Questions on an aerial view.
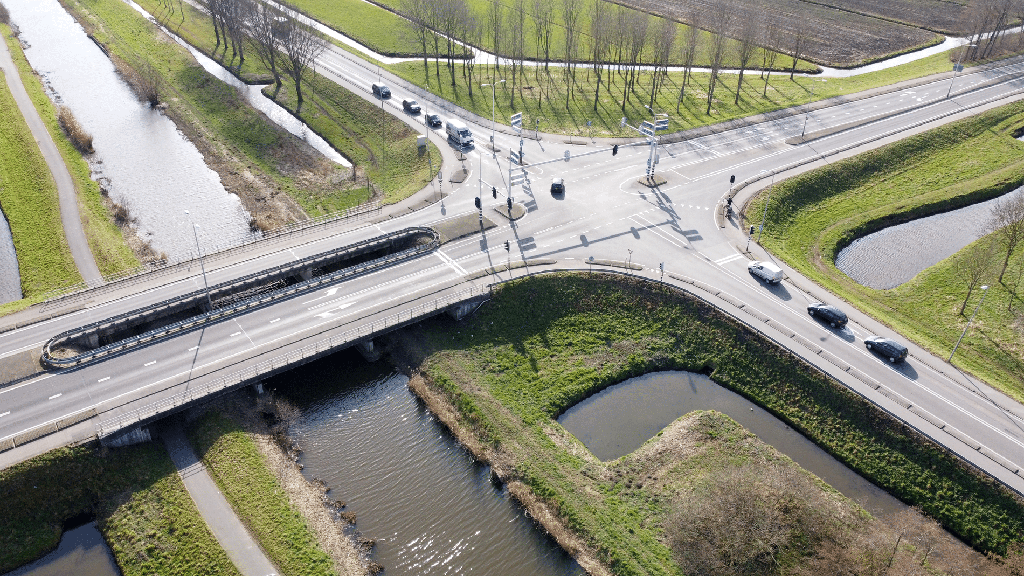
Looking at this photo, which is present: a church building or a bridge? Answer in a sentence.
Looking from above, you can make out a bridge.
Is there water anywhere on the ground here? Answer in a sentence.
Yes, some water is visible.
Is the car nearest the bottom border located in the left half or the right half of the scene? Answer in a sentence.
The car nearest the bottom border is on the right side of the image.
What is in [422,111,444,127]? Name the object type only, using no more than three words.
car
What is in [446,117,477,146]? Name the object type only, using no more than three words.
van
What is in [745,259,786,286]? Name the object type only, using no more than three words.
vehicle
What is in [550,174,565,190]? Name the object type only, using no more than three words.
car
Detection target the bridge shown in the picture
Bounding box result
[59,206,490,442]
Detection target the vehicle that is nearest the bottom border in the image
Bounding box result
[863,334,912,364]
